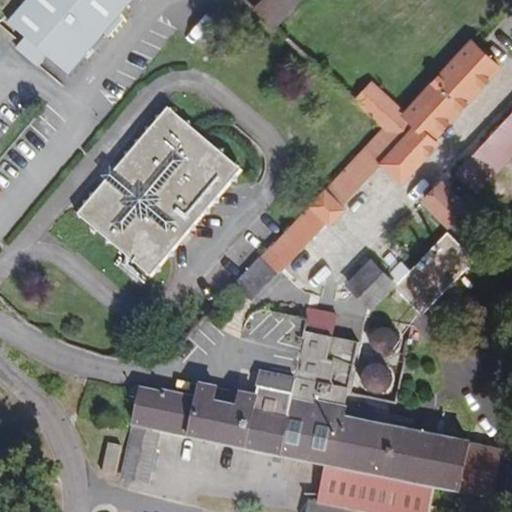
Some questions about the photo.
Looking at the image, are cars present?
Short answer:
Yes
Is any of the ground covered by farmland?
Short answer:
No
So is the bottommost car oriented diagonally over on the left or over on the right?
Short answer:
right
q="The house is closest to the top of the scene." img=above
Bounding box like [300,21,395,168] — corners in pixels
[252,0,312,34]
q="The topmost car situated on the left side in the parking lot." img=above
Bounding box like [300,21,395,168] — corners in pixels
[128,54,148,68]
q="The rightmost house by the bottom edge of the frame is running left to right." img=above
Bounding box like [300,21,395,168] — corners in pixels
[122,369,502,512]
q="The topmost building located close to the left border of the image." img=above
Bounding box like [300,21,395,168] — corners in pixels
[9,0,140,76]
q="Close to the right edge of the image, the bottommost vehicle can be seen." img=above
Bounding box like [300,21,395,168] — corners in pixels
[478,414,498,435]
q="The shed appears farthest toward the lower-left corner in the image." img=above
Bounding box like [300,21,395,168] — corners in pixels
[102,442,121,473]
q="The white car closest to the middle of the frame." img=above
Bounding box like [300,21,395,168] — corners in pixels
[246,232,263,248]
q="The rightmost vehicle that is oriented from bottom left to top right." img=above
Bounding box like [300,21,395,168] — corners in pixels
[408,178,430,200]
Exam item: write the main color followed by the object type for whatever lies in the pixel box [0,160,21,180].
white car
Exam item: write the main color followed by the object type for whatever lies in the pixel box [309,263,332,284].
white vehicle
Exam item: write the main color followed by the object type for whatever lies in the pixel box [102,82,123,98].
gray car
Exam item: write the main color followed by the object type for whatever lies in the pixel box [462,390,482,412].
white car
